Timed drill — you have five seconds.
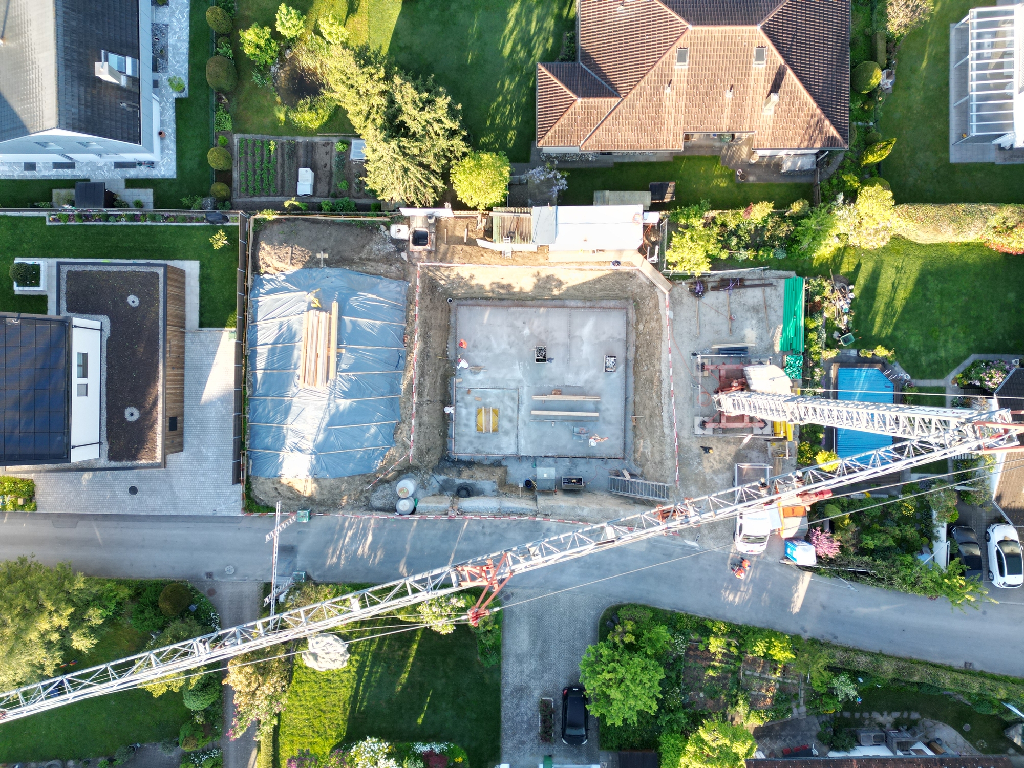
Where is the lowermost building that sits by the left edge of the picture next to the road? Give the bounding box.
[0,263,187,466]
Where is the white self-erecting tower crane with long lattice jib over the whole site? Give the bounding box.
[0,361,1024,723]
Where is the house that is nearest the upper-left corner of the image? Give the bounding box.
[0,0,160,162]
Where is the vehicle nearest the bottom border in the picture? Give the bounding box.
[559,686,590,746]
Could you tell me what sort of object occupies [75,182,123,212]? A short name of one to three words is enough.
shed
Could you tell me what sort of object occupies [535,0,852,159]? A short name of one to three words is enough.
house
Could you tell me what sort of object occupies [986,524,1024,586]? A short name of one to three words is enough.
car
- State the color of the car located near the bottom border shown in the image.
black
